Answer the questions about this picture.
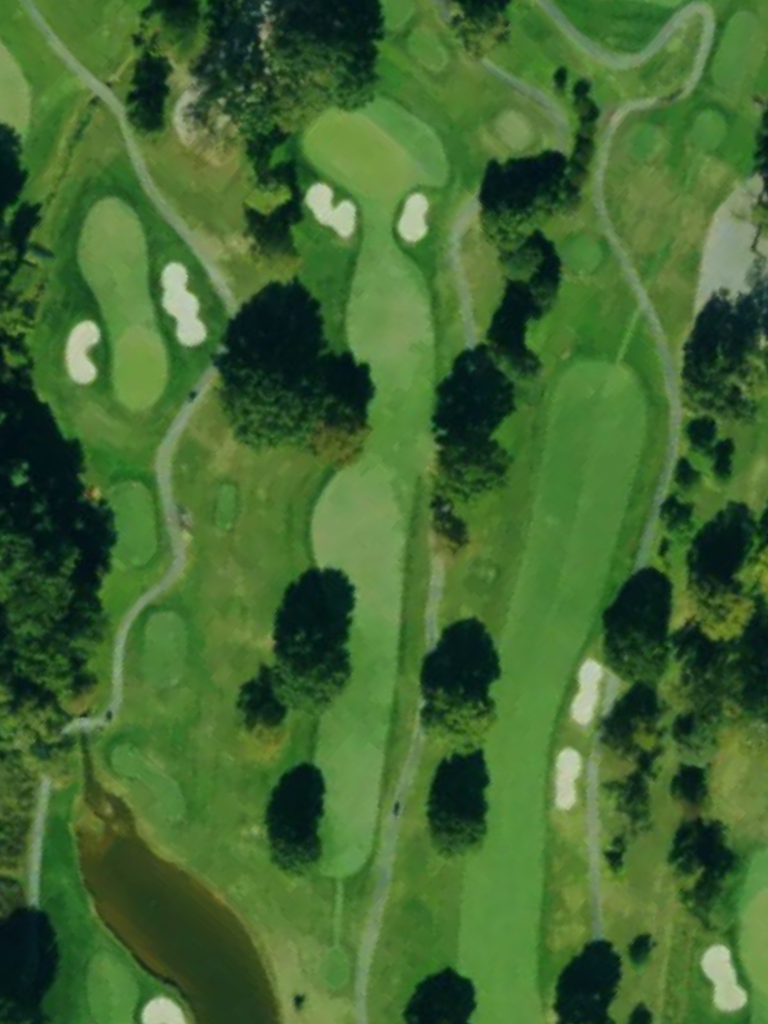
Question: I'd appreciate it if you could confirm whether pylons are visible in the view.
No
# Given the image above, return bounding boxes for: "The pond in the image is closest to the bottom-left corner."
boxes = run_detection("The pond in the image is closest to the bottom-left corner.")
[78,707,281,1024]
